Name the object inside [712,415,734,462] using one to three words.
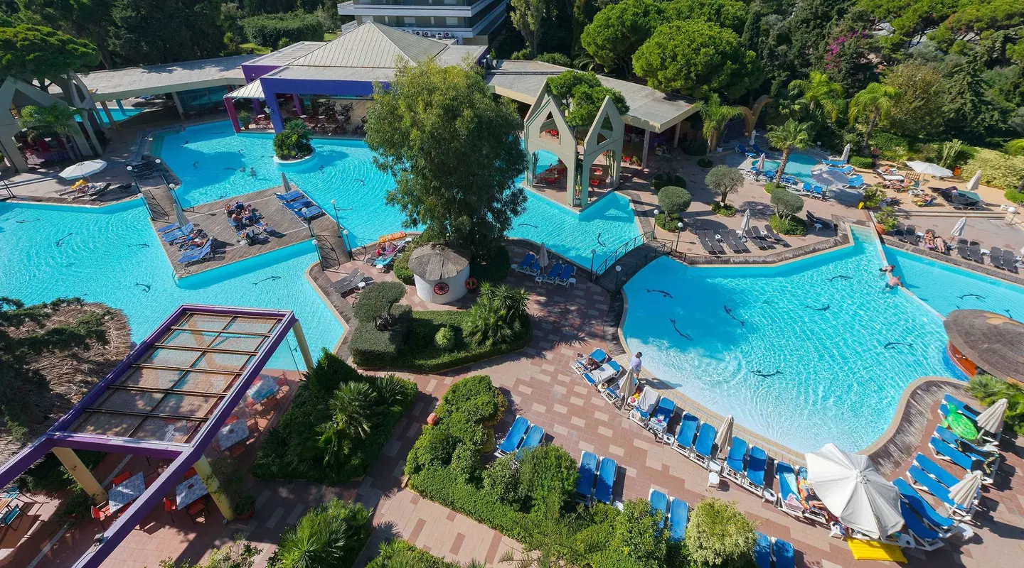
umbrella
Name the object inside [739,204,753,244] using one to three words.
umbrella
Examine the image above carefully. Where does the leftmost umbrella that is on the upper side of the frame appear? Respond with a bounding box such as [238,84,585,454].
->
[56,160,112,197]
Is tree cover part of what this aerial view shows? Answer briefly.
Yes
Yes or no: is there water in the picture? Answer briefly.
Yes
